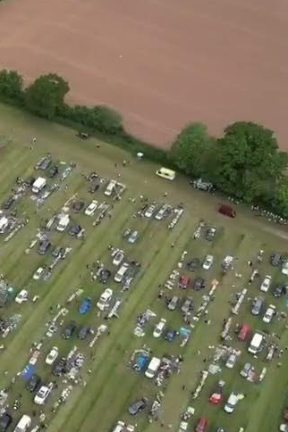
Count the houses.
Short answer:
zero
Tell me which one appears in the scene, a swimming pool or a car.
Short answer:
car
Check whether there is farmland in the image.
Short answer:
Yes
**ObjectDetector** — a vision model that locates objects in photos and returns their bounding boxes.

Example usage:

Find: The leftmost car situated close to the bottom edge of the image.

[0,411,15,432]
